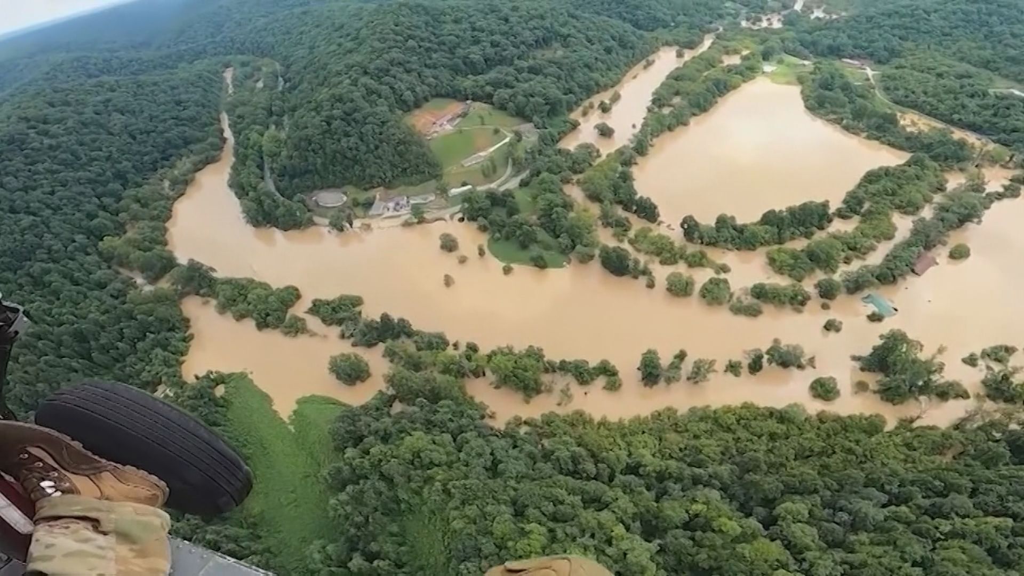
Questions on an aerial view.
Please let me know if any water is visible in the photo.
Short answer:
Yes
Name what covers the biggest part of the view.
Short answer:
trees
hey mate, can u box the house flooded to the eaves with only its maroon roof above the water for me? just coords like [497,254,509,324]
[908,255,942,277]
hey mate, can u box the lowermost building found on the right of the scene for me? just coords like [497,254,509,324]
[863,295,900,317]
